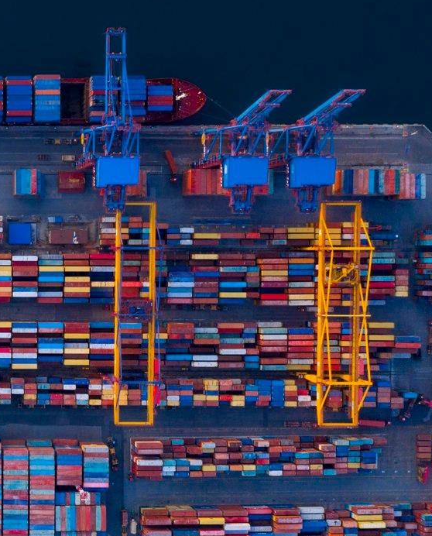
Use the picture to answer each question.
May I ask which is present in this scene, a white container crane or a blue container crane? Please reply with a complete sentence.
Visible in the photo is a blue container crane.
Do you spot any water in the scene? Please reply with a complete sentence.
Yes, water can be seen from above here.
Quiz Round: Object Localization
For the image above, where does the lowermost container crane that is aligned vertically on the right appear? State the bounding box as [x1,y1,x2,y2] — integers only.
[286,201,376,426]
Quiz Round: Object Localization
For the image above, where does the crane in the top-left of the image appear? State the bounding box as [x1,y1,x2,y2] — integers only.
[68,26,141,212]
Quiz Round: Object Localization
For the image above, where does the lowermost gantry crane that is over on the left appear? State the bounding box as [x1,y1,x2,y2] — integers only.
[94,201,163,426]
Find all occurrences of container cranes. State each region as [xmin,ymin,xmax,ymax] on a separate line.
[255,89,369,212]
[94,201,163,426]
[68,26,141,212]
[286,201,376,426]
[188,89,293,212]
